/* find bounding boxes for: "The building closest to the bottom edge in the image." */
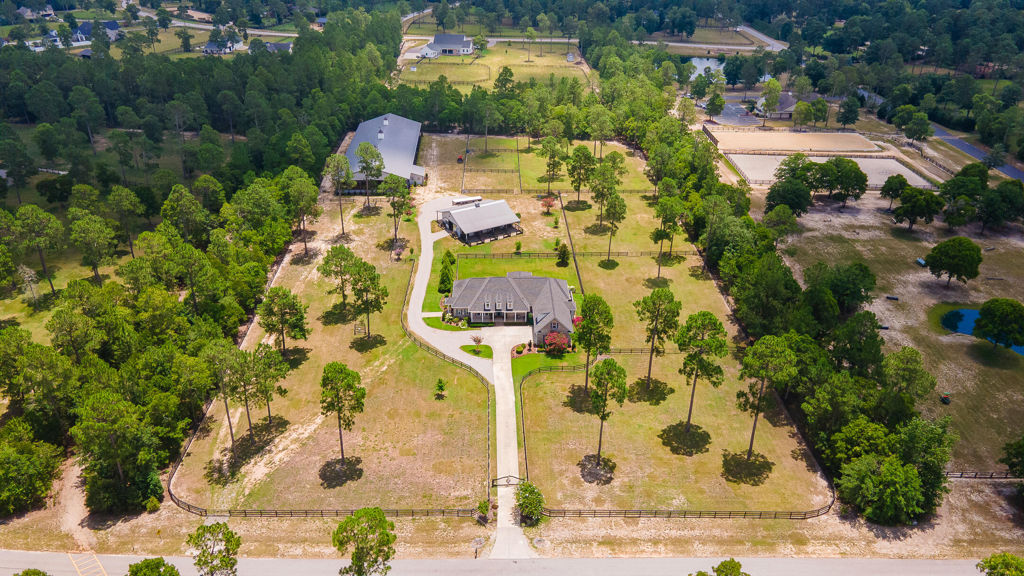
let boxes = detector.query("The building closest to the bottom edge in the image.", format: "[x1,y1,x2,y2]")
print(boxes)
[444,270,577,343]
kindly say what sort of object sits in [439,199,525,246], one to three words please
building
